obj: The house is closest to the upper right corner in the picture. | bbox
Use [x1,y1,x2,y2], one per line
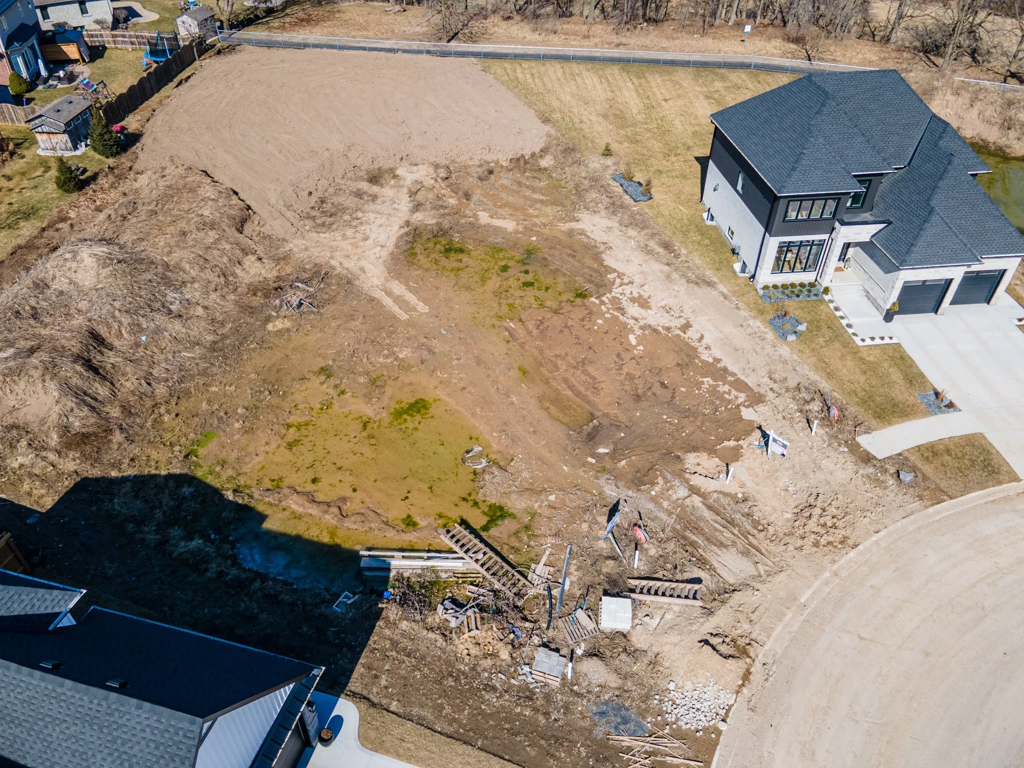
[698,70,1024,313]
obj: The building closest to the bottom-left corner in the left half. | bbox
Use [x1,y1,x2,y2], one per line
[0,565,330,768]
